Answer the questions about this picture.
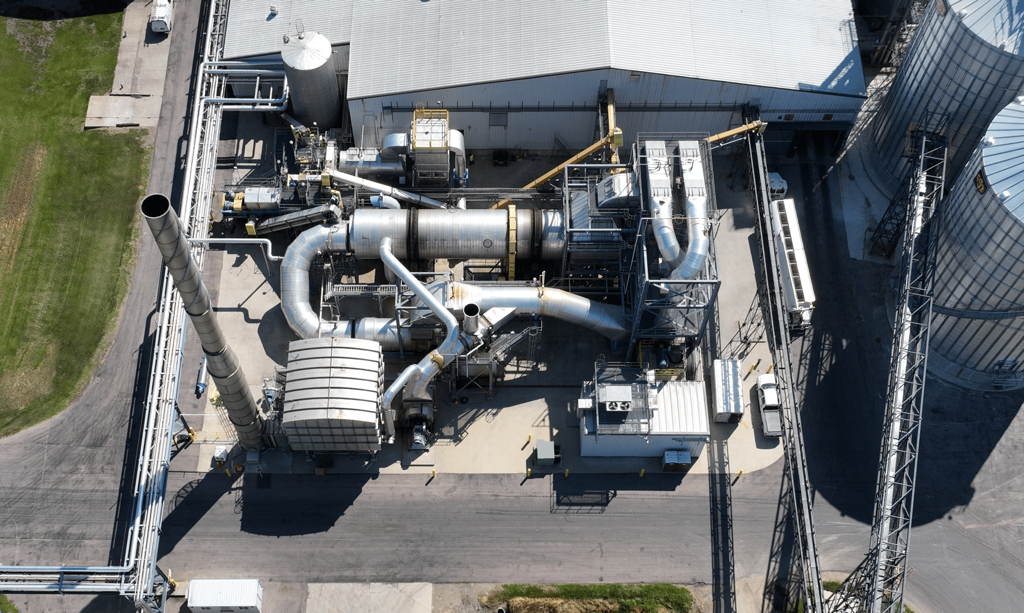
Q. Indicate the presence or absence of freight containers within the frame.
Yes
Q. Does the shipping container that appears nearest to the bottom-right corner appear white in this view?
Yes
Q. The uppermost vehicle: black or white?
white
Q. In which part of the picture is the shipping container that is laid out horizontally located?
bottom left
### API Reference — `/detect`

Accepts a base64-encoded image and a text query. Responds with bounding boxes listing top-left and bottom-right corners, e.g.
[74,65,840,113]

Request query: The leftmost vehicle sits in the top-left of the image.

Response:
[149,0,176,30]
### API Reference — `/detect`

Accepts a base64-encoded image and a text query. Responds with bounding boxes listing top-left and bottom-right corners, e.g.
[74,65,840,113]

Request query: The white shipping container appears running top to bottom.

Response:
[712,360,745,425]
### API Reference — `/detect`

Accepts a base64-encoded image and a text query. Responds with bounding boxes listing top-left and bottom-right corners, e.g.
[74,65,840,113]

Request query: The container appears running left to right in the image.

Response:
[181,578,265,613]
